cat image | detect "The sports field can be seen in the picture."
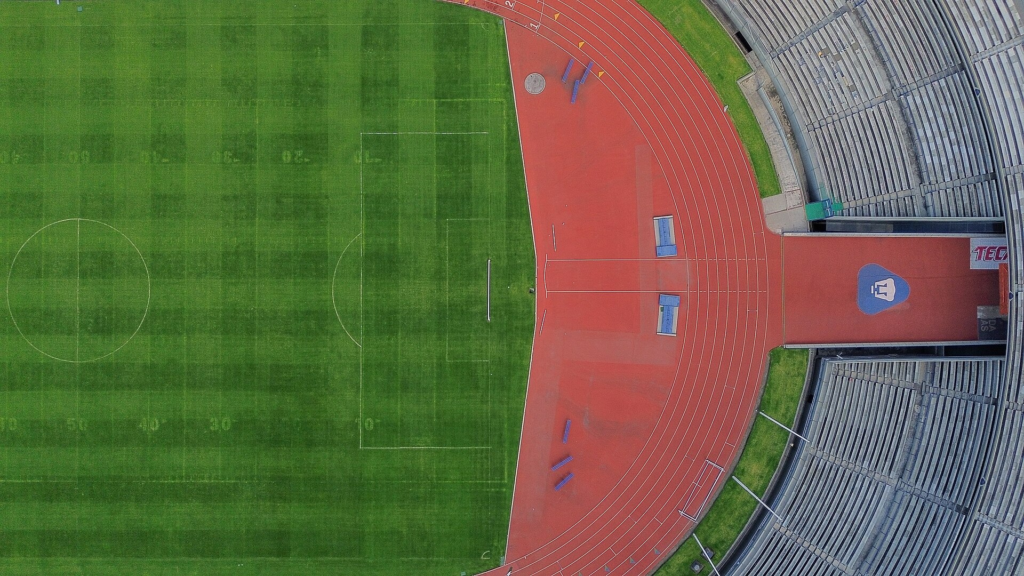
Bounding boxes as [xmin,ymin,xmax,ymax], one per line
[0,0,536,576]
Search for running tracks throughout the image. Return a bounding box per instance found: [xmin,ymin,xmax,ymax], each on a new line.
[428,0,768,576]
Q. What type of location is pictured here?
sports ground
